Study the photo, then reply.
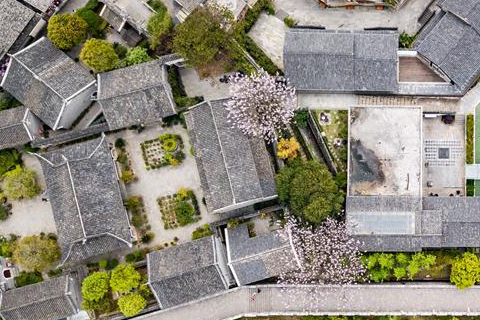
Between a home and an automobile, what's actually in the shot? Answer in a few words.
home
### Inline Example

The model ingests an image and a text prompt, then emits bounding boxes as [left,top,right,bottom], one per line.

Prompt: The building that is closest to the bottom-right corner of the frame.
[425,197,480,247]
